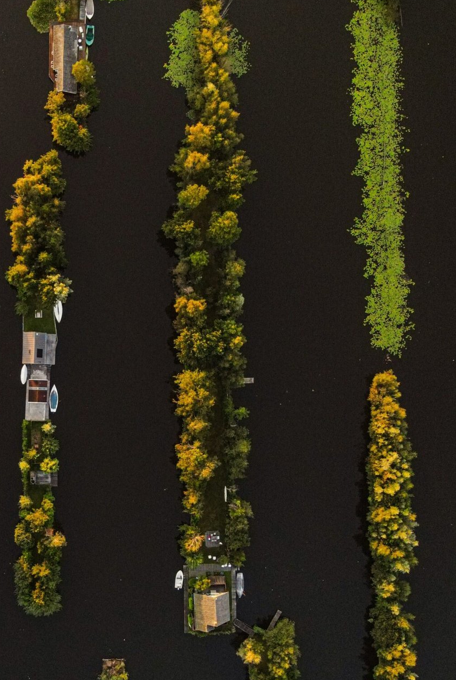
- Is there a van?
No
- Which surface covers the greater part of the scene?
water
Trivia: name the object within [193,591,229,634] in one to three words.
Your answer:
house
